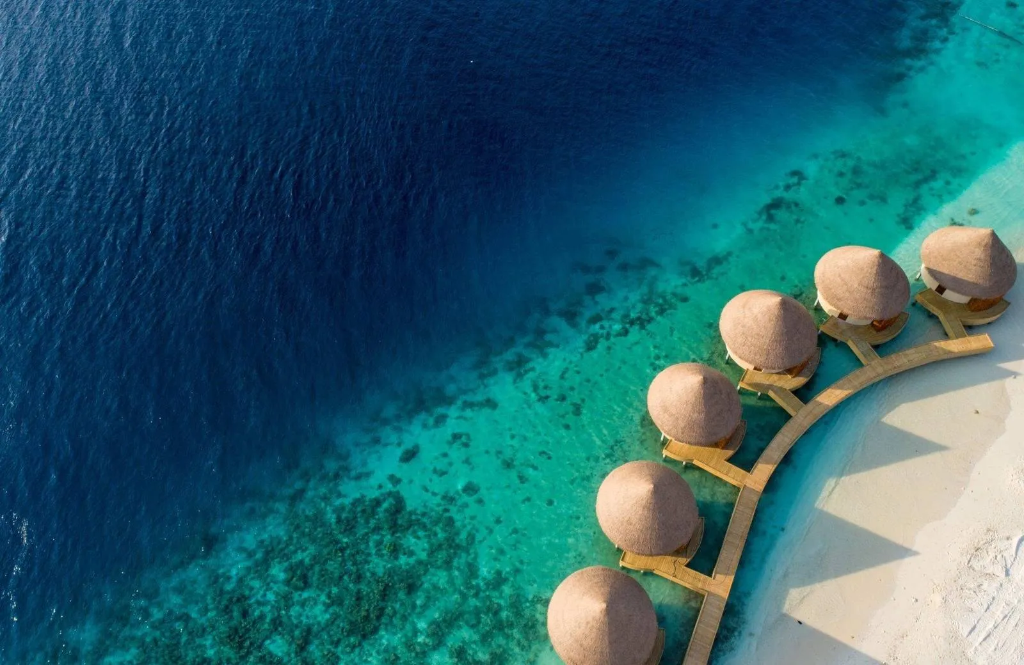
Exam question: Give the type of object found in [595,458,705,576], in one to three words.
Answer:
shed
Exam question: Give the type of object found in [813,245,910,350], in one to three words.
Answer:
shed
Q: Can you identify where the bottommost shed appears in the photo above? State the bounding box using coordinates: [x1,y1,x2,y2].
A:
[548,565,664,665]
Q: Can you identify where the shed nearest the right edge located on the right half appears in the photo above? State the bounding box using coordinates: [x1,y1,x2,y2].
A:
[911,224,1018,325]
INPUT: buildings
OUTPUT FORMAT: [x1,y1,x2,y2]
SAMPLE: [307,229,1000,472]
[911,224,1018,325]
[721,289,821,402]
[595,458,705,576]
[813,245,910,350]
[548,565,664,665]
[644,361,747,471]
